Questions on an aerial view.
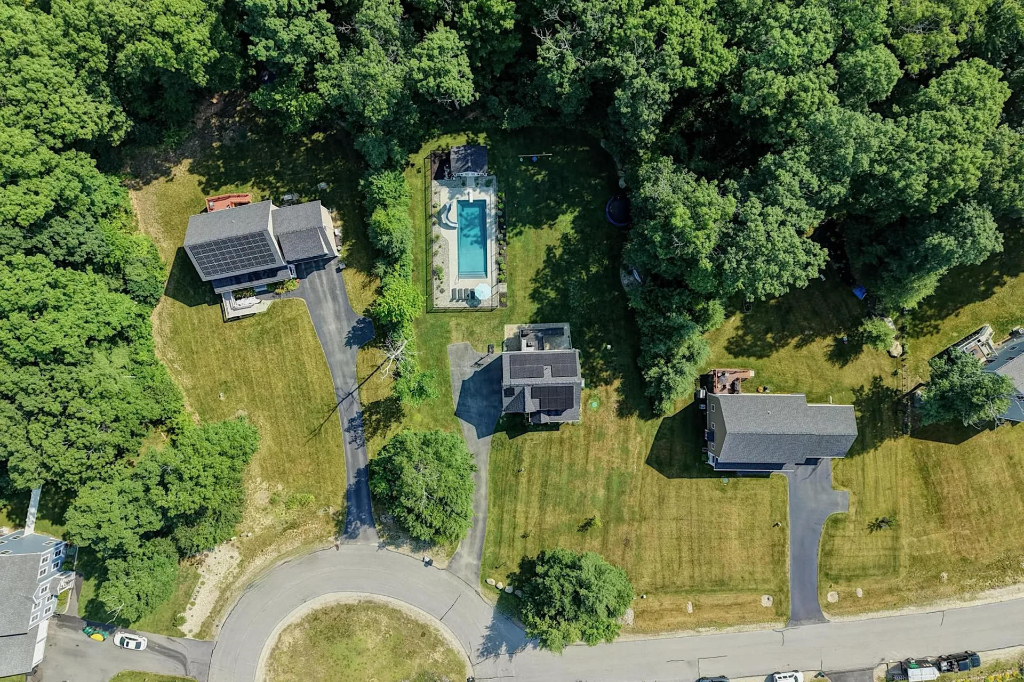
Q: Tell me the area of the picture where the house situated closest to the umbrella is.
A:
center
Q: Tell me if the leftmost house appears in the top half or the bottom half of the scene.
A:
bottom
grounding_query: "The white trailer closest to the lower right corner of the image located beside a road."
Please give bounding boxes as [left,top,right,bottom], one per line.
[883,659,946,682]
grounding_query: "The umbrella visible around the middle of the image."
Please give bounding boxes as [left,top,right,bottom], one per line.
[475,284,492,301]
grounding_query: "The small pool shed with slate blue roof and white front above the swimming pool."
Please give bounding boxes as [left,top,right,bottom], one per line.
[450,142,488,177]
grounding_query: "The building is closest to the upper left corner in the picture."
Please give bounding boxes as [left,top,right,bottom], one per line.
[184,193,336,297]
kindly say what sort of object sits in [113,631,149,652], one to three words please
car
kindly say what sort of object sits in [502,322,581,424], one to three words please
house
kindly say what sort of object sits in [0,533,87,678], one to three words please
house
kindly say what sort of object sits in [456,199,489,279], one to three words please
swimming pool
